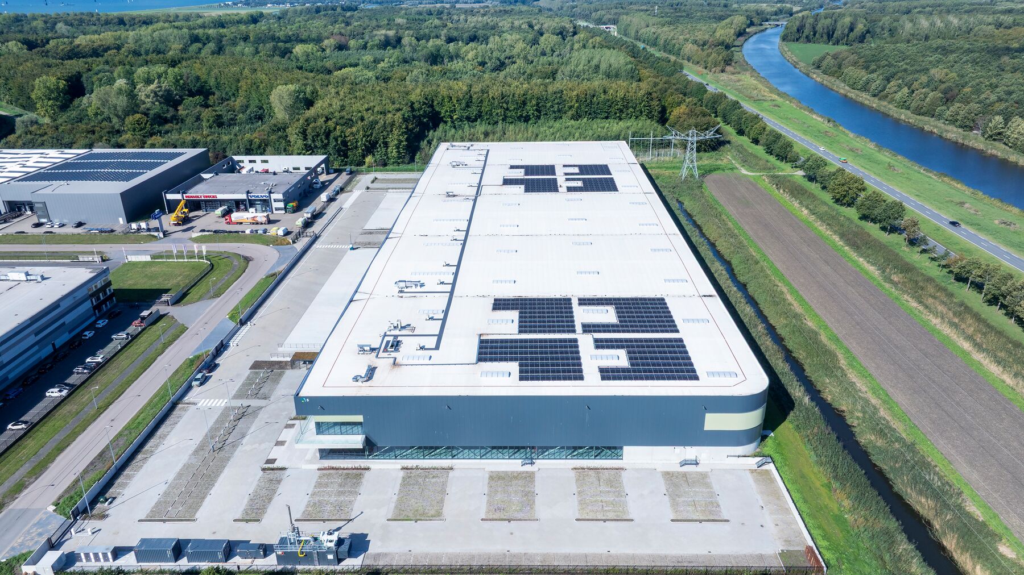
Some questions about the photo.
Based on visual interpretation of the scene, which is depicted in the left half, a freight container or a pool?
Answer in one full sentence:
What appears in the left half is a freight container.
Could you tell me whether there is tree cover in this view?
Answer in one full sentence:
Yes, tree cover can be seen from above here.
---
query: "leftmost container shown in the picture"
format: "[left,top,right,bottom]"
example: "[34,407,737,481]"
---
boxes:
[133,538,183,563]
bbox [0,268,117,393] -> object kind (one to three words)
building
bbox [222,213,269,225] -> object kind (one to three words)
vehicle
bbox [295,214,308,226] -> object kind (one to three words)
vehicle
